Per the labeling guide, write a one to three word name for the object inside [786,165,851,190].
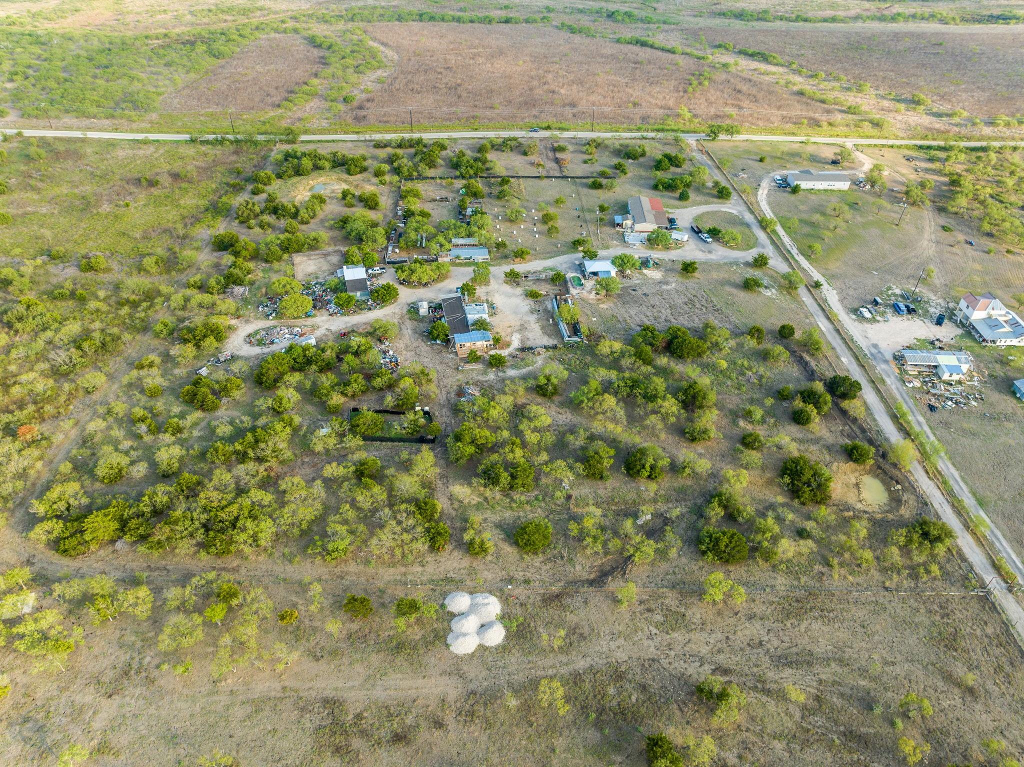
house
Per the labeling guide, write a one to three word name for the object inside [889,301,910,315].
vehicle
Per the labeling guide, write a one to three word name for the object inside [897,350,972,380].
shed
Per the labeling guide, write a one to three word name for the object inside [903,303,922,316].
vehicle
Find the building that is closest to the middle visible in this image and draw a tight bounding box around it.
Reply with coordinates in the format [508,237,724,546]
[448,334,491,364]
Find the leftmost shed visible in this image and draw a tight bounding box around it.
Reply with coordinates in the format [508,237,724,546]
[337,263,368,302]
